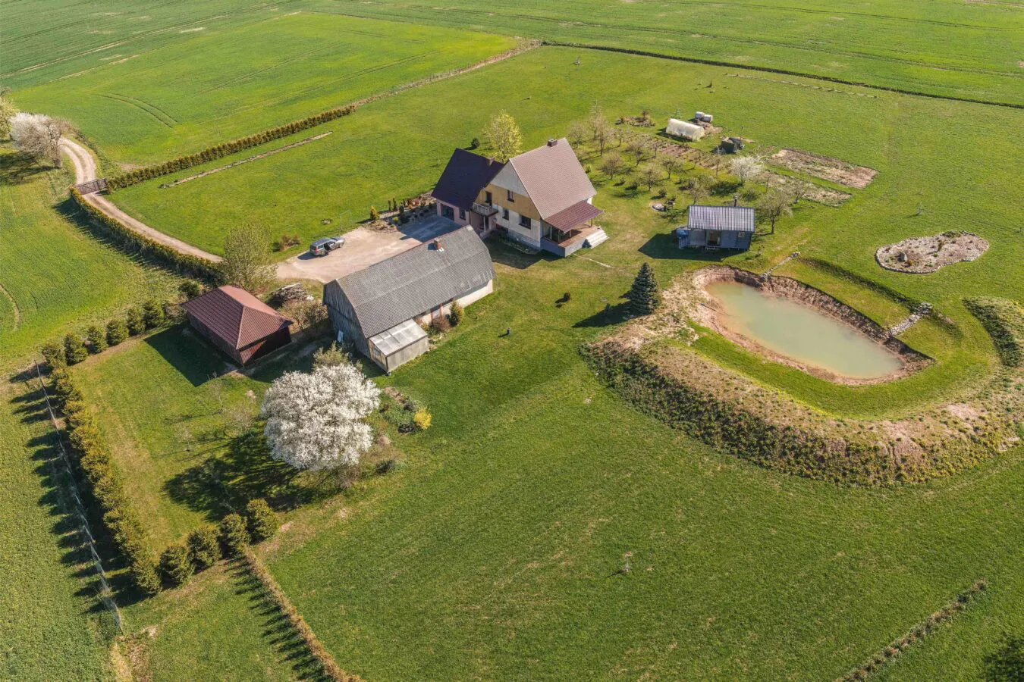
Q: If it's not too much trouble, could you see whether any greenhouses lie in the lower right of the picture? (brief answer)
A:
No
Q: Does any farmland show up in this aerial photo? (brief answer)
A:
Yes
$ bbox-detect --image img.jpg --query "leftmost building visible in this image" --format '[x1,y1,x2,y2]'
[180,282,294,367]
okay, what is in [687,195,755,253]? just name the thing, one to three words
building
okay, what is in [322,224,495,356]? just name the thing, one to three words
barn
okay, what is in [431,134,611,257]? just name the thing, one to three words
house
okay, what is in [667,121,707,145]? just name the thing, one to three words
greenhouse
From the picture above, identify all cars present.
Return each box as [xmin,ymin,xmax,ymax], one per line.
[309,236,344,254]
